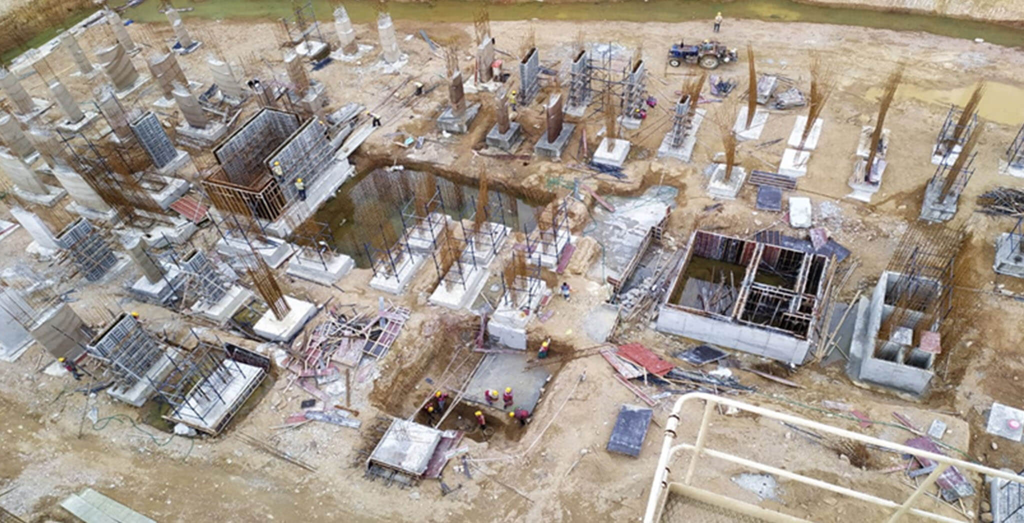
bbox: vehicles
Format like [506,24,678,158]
[666,37,737,77]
